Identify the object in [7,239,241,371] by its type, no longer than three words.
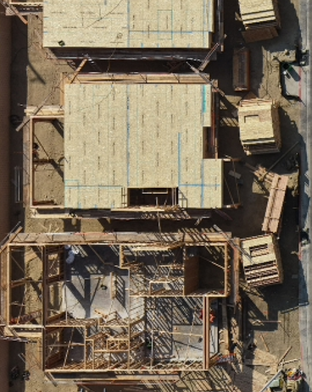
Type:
house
